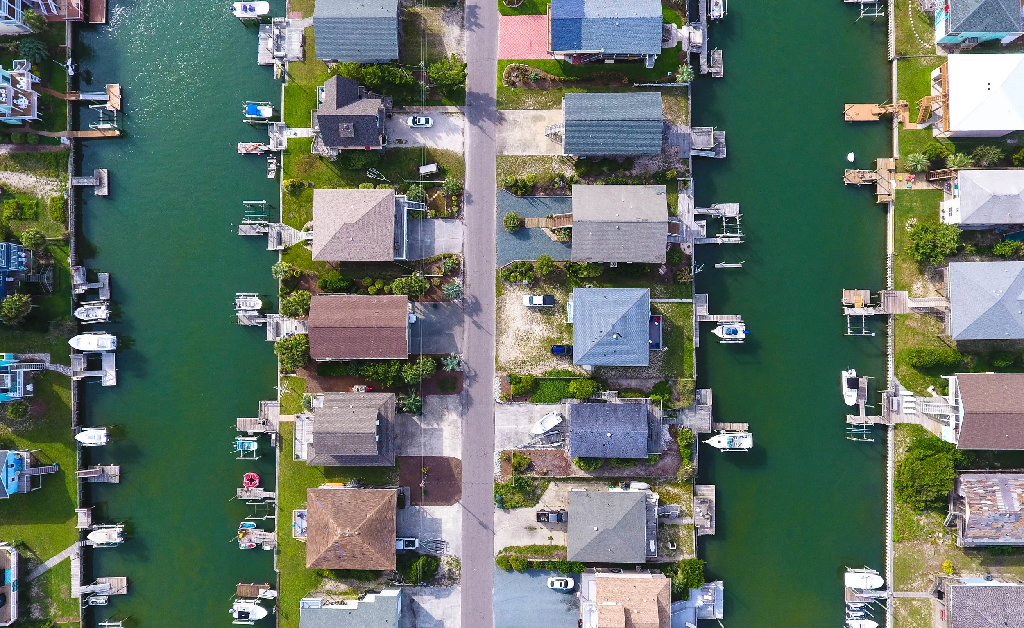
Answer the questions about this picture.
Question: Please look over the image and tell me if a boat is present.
Yes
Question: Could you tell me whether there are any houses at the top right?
Yes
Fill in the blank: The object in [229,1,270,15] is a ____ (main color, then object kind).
white boat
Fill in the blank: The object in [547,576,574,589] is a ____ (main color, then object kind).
white vehicle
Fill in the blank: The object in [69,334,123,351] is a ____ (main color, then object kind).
white boat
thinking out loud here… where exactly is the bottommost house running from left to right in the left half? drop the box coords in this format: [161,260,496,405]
[298,584,404,628]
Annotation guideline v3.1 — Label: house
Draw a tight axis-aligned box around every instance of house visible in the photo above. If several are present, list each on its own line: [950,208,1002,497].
[567,488,679,563]
[942,469,1024,547]
[0,59,47,124]
[561,390,676,458]
[0,545,21,628]
[916,53,1024,137]
[0,239,55,301]
[928,571,1024,628]
[928,168,1024,232]
[298,584,404,628]
[553,185,681,263]
[914,0,1024,50]
[311,73,393,163]
[0,355,46,404]
[909,262,1024,339]
[313,0,405,69]
[291,393,396,466]
[0,449,59,502]
[293,486,405,570]
[581,567,671,628]
[921,373,1024,449]
[545,92,674,157]
[567,288,662,371]
[547,0,672,69]
[308,293,412,362]
[299,189,425,260]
